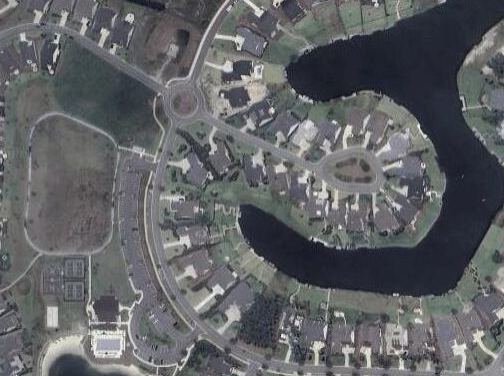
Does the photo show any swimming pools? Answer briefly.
Yes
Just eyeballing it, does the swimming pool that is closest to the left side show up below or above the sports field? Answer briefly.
below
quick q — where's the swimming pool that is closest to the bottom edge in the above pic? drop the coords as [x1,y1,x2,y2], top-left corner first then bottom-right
[95,331,125,357]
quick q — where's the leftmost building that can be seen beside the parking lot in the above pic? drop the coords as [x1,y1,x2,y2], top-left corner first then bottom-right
[92,294,120,321]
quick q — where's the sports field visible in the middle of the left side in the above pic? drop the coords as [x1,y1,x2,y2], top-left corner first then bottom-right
[27,116,116,249]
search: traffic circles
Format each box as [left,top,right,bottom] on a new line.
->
[163,81,205,123]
